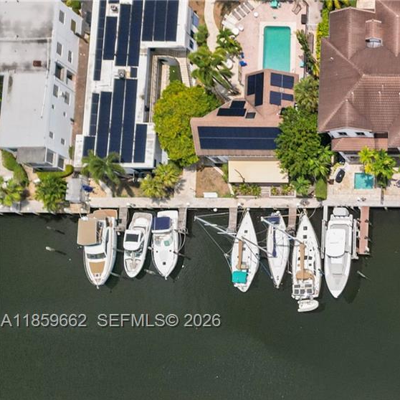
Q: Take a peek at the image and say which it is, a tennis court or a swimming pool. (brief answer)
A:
swimming pool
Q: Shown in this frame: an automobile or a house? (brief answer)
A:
house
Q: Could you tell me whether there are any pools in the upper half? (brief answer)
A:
Yes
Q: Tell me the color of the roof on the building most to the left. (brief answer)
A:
white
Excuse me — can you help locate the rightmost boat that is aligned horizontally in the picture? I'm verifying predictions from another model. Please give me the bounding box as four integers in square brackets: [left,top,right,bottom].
[297,299,319,311]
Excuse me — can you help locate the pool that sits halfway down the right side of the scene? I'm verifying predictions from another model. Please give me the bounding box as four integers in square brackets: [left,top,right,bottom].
[352,170,375,190]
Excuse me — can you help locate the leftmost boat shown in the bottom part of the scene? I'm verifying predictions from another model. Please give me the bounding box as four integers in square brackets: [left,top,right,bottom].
[77,210,124,289]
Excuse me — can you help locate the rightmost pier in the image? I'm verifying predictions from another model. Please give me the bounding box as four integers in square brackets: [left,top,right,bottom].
[357,207,372,255]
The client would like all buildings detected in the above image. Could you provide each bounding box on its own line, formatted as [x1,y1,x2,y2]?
[72,0,202,177]
[192,68,303,188]
[317,0,400,165]
[0,0,86,176]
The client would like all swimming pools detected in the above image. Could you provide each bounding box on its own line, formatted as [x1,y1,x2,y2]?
[352,170,375,190]
[259,21,295,73]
